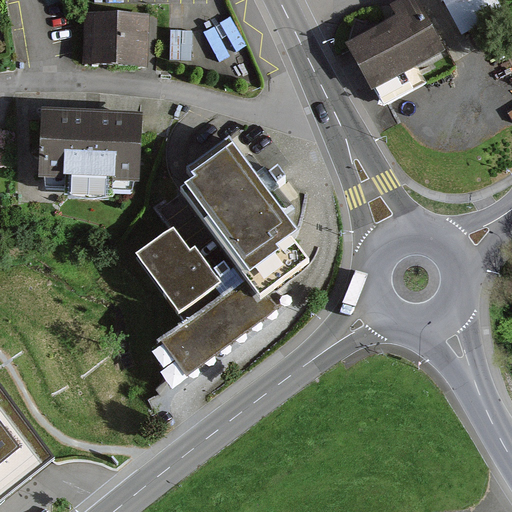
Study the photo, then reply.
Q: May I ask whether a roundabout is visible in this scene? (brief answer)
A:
Yes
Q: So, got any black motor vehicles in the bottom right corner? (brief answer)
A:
No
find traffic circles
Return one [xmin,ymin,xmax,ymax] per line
[336,204,488,364]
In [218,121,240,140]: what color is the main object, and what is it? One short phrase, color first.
black car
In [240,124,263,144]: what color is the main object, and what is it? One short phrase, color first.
black car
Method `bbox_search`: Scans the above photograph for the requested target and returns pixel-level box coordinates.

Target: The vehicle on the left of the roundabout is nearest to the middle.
[200,240,218,258]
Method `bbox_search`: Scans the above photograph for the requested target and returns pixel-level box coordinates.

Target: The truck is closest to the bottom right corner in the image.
[339,270,368,317]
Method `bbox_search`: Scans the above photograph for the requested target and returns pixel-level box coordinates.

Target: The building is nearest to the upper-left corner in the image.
[82,10,150,68]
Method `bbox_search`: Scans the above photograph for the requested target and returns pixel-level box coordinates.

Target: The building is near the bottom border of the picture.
[0,390,56,507]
